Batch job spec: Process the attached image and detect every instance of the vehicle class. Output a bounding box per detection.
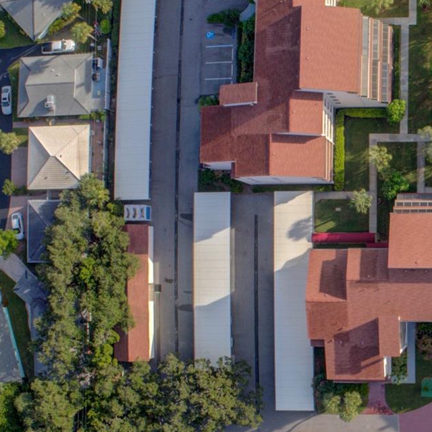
[6,211,24,238]
[0,85,12,115]
[39,37,74,51]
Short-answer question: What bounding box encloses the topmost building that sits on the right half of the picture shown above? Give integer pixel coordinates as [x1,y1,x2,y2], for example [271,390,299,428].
[200,0,398,183]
